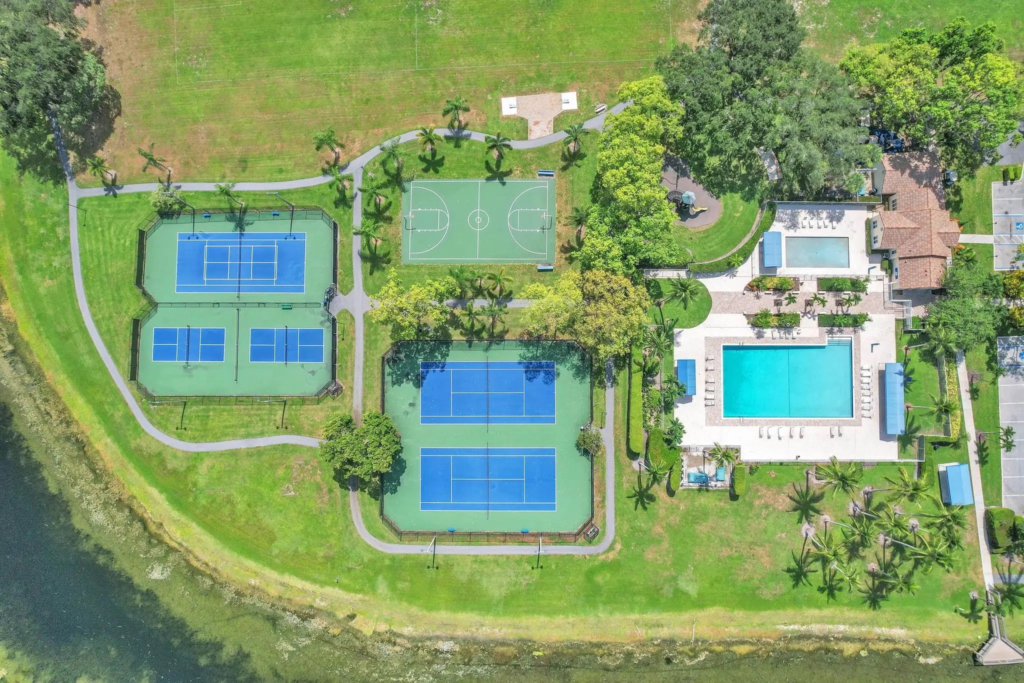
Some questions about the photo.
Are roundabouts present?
No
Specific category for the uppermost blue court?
tennis court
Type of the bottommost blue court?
tennis court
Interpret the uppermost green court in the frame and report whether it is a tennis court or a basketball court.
basketball court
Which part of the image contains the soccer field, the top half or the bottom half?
top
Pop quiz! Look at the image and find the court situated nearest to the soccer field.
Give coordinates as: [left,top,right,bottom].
[502,92,578,141]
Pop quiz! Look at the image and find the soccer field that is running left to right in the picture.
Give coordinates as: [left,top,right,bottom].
[170,0,673,84]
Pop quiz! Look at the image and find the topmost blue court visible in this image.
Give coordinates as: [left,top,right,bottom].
[176,226,306,298]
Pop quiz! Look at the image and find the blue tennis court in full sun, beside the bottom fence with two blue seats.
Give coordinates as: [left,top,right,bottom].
[420,442,556,518]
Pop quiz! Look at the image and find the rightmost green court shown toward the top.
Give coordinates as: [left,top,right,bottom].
[402,179,556,265]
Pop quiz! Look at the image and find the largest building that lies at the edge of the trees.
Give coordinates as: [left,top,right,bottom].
[873,152,963,290]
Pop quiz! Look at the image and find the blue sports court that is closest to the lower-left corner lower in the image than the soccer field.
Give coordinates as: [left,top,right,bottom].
[152,325,225,364]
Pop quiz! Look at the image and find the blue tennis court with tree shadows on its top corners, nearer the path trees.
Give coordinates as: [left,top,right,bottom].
[420,356,556,430]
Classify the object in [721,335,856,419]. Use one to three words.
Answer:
swimming pool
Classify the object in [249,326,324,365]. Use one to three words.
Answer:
sports court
